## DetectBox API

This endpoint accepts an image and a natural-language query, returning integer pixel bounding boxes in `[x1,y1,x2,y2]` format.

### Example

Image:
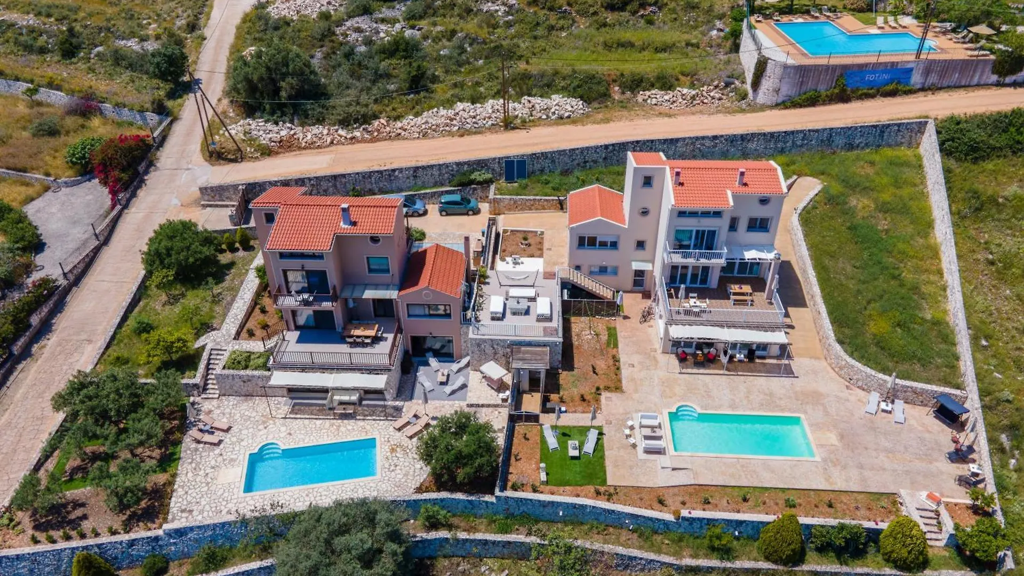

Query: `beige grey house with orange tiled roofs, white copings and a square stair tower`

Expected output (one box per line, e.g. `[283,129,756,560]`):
[563,151,799,354]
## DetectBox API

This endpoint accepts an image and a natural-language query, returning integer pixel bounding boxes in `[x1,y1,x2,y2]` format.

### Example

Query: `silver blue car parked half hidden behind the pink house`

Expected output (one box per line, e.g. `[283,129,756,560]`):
[391,195,431,218]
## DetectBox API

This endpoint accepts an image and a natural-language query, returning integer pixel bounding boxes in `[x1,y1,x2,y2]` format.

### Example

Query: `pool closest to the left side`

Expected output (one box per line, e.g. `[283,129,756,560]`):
[237,433,382,497]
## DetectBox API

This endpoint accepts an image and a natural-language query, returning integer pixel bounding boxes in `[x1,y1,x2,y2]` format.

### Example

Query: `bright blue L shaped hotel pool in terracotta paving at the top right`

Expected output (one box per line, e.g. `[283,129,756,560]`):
[767,19,949,57]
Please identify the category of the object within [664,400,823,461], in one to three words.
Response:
swimming pool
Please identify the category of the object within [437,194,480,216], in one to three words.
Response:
car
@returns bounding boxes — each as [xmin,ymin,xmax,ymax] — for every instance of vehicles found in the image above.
[437,194,480,216]
[391,195,431,218]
